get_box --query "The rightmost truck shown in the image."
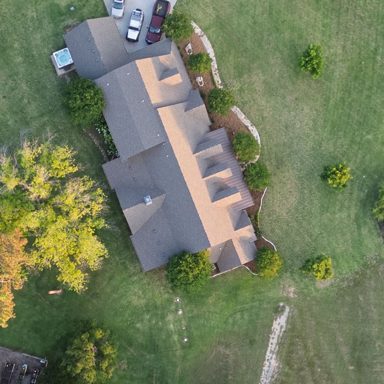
[147,0,170,44]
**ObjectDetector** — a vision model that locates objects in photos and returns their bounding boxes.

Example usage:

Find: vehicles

[147,0,170,44]
[110,0,125,18]
[126,7,143,41]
